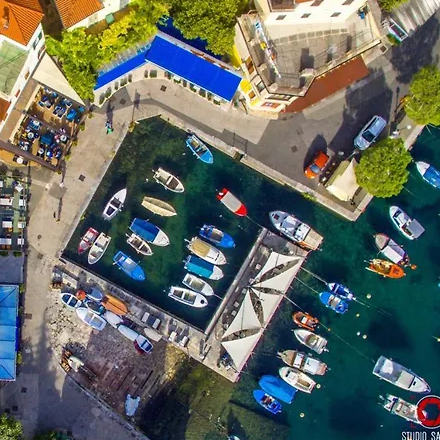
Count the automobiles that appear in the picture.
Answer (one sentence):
Looking from above, you can make out 2 automobiles.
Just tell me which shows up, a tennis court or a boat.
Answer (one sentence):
This aerial view contains a boat.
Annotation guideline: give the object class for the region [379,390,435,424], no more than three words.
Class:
boat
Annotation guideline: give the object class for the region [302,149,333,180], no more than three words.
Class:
car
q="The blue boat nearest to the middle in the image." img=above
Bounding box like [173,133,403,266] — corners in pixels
[198,223,237,247]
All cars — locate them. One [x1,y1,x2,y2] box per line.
[350,112,391,154]
[302,149,333,180]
